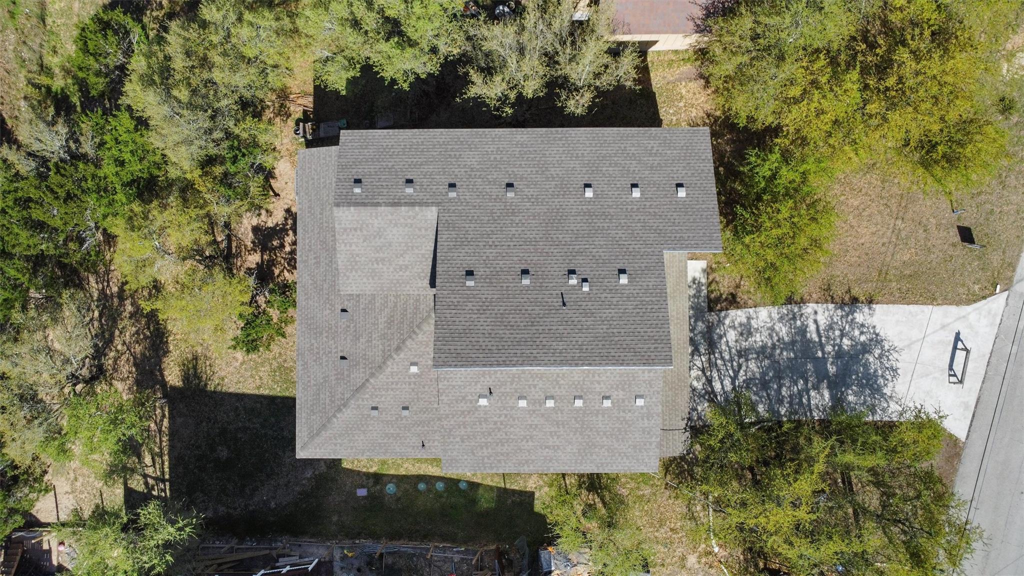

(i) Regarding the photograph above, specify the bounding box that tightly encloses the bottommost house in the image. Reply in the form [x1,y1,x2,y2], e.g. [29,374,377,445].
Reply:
[295,128,722,473]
